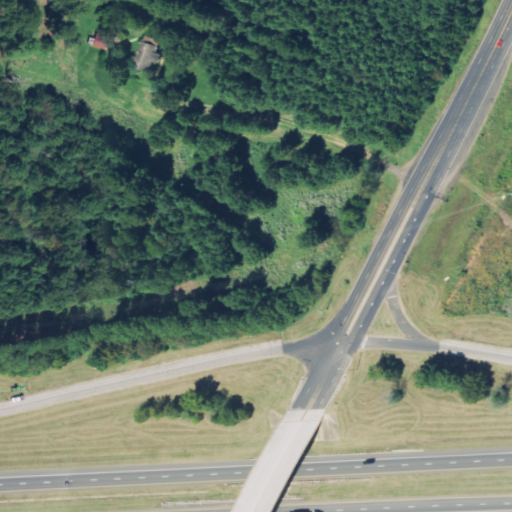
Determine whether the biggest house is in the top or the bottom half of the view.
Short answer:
top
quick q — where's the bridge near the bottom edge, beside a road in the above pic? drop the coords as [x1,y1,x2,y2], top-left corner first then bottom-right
[229,408,326,512]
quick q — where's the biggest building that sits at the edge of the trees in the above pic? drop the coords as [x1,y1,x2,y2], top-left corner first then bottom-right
[131,40,162,74]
